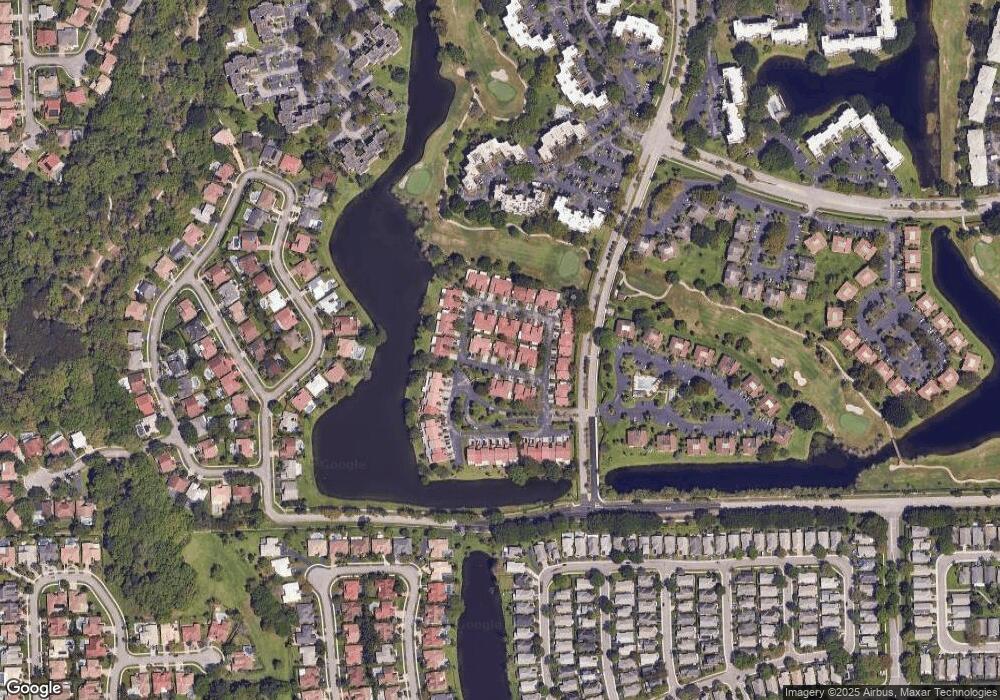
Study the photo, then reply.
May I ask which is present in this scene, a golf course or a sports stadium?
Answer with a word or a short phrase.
golf course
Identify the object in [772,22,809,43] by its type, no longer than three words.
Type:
building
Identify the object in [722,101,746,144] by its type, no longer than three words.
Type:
building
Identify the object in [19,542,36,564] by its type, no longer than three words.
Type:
house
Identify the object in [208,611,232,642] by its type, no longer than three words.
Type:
house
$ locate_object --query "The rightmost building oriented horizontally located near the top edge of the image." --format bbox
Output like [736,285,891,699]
[822,33,882,56]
